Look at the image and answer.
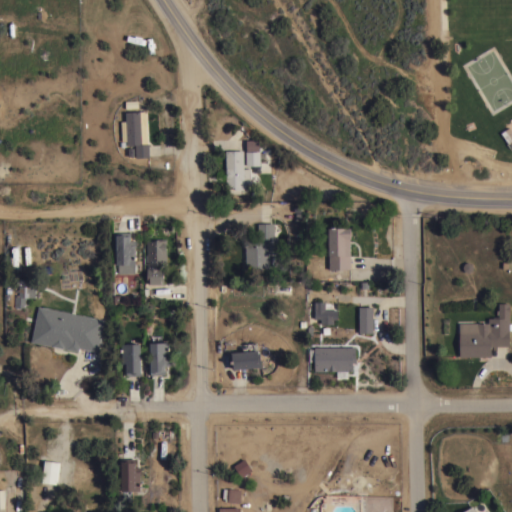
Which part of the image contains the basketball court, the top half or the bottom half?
top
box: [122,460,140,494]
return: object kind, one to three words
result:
house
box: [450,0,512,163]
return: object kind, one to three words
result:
sports field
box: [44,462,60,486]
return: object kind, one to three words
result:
barn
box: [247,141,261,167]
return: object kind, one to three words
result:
shed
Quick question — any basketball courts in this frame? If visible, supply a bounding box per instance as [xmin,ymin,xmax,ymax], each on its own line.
[464,48,512,115]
